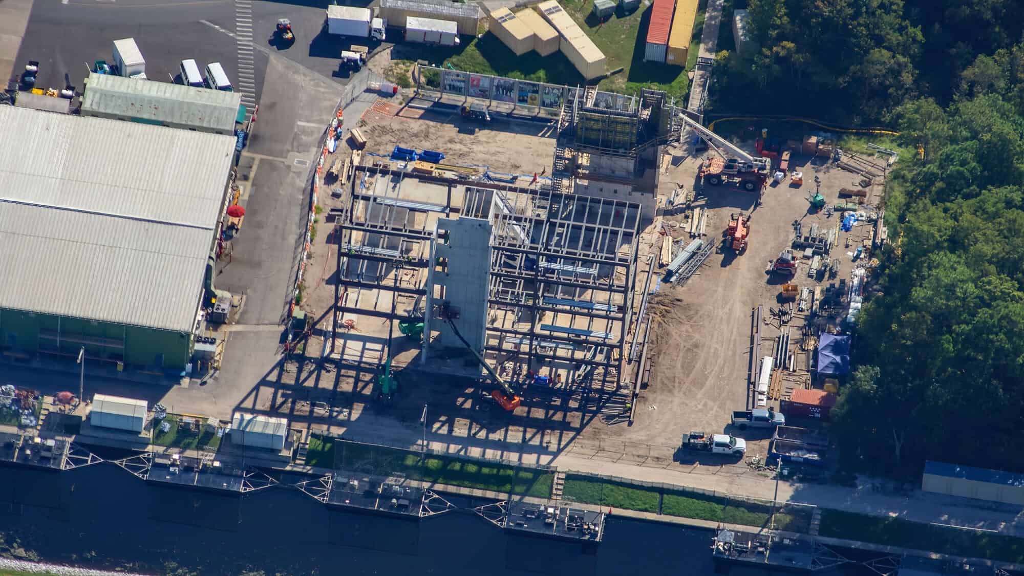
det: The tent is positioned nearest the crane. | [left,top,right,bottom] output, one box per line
[815,334,851,392]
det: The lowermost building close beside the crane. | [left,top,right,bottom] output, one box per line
[330,165,647,393]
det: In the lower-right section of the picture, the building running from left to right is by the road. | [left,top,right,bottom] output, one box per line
[919,456,1024,508]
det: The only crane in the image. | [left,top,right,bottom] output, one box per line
[671,109,777,204]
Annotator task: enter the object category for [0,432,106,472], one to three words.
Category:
pier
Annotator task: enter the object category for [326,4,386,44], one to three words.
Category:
truck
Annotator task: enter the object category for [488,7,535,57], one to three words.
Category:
shipping container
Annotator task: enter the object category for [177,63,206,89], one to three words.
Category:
vehicle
